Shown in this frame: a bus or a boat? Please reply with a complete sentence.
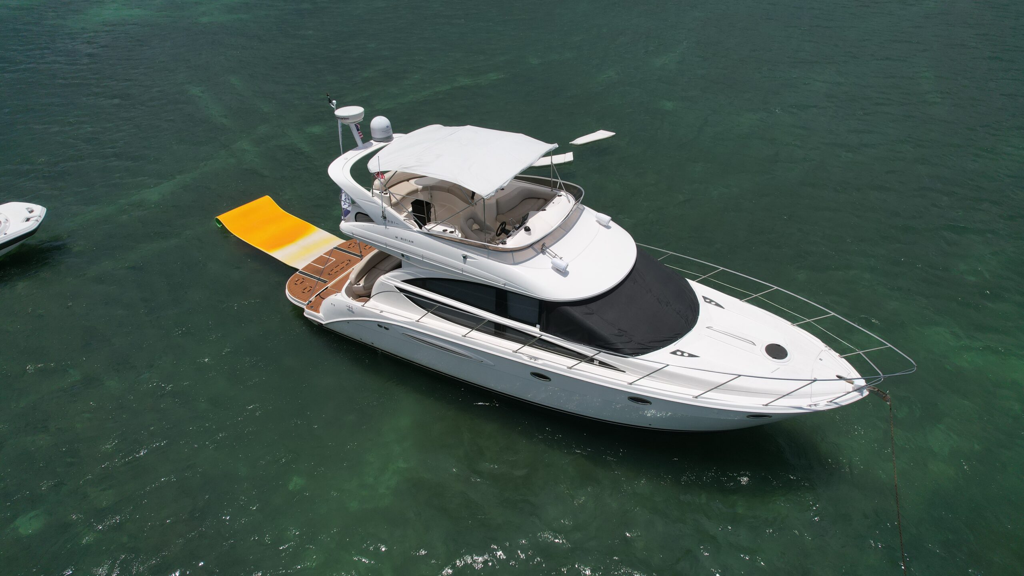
Visible in the photo is a boat.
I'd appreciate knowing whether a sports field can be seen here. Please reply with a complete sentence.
No, no sports field can be seen from above.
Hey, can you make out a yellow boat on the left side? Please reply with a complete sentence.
No, looking on the left side, there is no yellow boat.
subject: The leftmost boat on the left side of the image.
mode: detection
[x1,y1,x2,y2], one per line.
[0,203,48,260]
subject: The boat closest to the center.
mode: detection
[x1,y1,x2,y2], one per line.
[286,87,920,437]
